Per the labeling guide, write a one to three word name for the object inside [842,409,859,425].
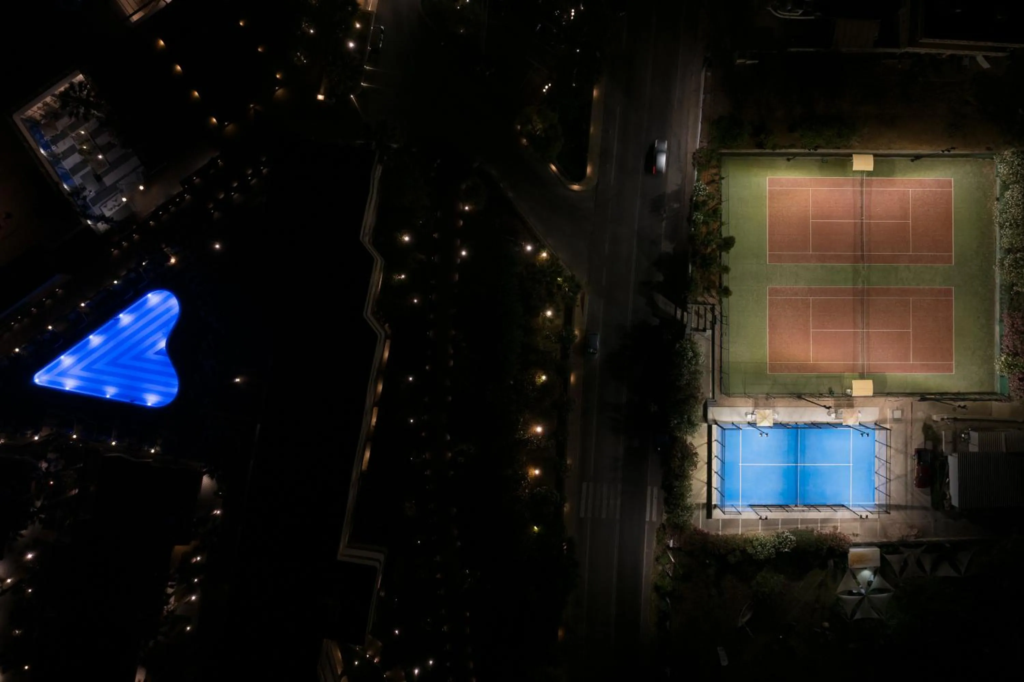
umbrella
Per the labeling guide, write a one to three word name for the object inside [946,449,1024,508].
shed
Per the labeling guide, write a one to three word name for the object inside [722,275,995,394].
tennis court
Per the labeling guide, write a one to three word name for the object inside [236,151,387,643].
building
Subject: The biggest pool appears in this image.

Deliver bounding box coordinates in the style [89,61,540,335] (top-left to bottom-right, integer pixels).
[31,288,182,410]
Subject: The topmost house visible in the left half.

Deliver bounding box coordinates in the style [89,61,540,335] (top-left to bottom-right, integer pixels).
[122,0,188,31]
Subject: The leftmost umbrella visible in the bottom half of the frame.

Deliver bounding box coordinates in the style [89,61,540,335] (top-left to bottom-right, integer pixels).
[756,410,772,426]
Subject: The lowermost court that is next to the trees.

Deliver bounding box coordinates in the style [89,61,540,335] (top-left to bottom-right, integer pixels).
[715,423,892,515]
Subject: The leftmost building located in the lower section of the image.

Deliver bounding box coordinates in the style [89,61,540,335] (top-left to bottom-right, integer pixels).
[69,464,210,633]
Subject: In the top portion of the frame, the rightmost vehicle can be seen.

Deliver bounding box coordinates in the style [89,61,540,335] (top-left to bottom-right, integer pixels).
[652,140,669,175]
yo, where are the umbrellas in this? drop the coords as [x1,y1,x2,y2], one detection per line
[756,410,772,426]
[842,409,859,425]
